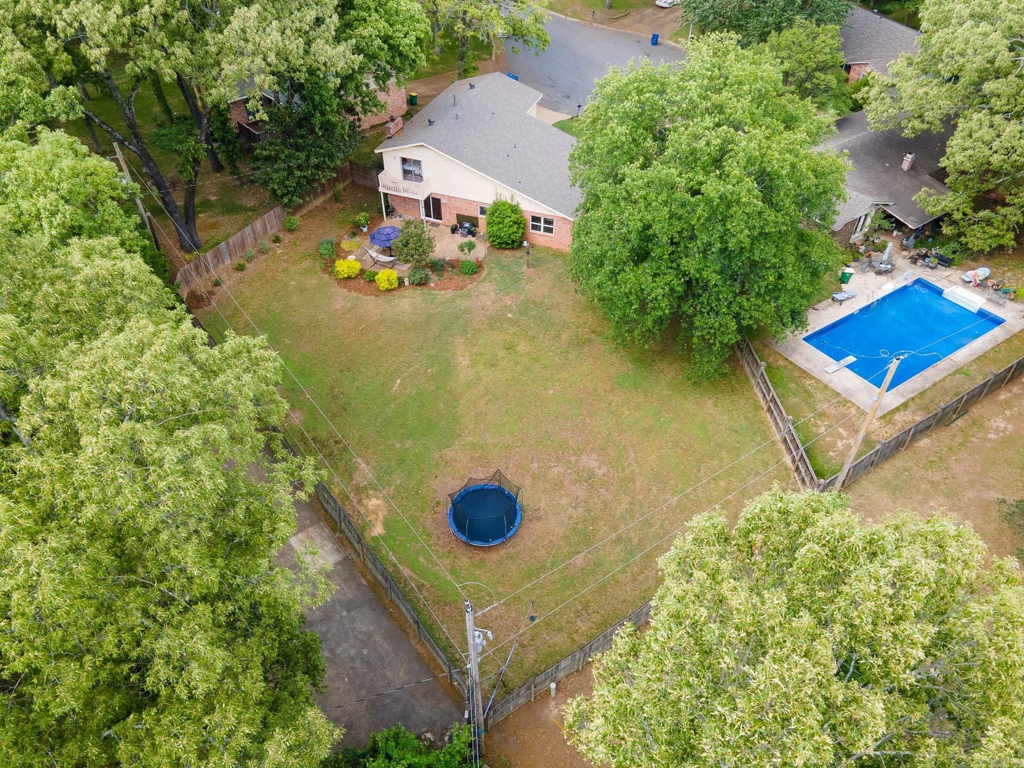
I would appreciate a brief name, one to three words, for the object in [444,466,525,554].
trampoline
